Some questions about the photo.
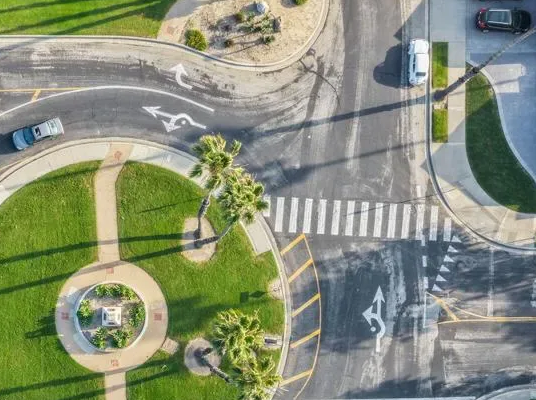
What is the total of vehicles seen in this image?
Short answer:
three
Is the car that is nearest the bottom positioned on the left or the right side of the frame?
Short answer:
left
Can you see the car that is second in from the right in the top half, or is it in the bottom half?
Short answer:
top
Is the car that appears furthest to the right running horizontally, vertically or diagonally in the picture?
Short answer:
horizontally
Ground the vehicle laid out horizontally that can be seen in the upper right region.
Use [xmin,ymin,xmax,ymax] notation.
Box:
[477,4,531,30]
